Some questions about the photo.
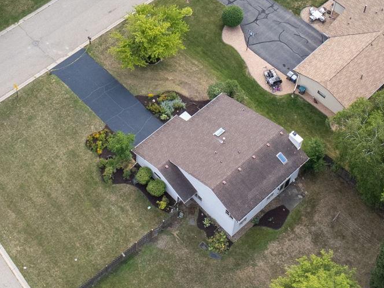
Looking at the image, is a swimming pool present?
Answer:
No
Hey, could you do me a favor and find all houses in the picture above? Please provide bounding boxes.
[293,0,384,121]
[132,94,310,236]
